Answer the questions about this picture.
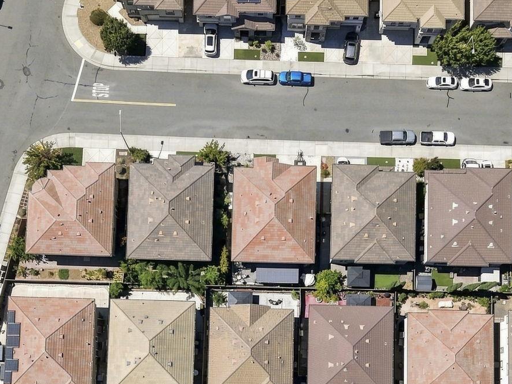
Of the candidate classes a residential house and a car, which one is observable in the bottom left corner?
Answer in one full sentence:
You can see a residential house in the bottom left corner.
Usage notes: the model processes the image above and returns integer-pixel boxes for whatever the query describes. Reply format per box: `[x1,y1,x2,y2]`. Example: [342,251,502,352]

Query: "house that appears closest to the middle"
[231,158,318,266]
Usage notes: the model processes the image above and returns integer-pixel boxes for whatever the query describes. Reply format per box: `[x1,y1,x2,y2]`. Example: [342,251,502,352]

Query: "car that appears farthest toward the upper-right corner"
[460,78,491,93]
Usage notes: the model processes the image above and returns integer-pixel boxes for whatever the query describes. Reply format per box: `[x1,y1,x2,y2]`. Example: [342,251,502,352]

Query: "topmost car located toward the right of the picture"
[344,34,360,65]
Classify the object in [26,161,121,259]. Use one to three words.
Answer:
house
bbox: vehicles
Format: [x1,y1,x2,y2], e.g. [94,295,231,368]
[378,130,416,146]
[418,131,456,146]
[479,155,495,167]
[463,153,478,171]
[336,152,351,164]
[460,78,491,93]
[277,71,315,87]
[344,34,360,65]
[203,26,218,57]
[426,75,457,92]
[241,70,273,86]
